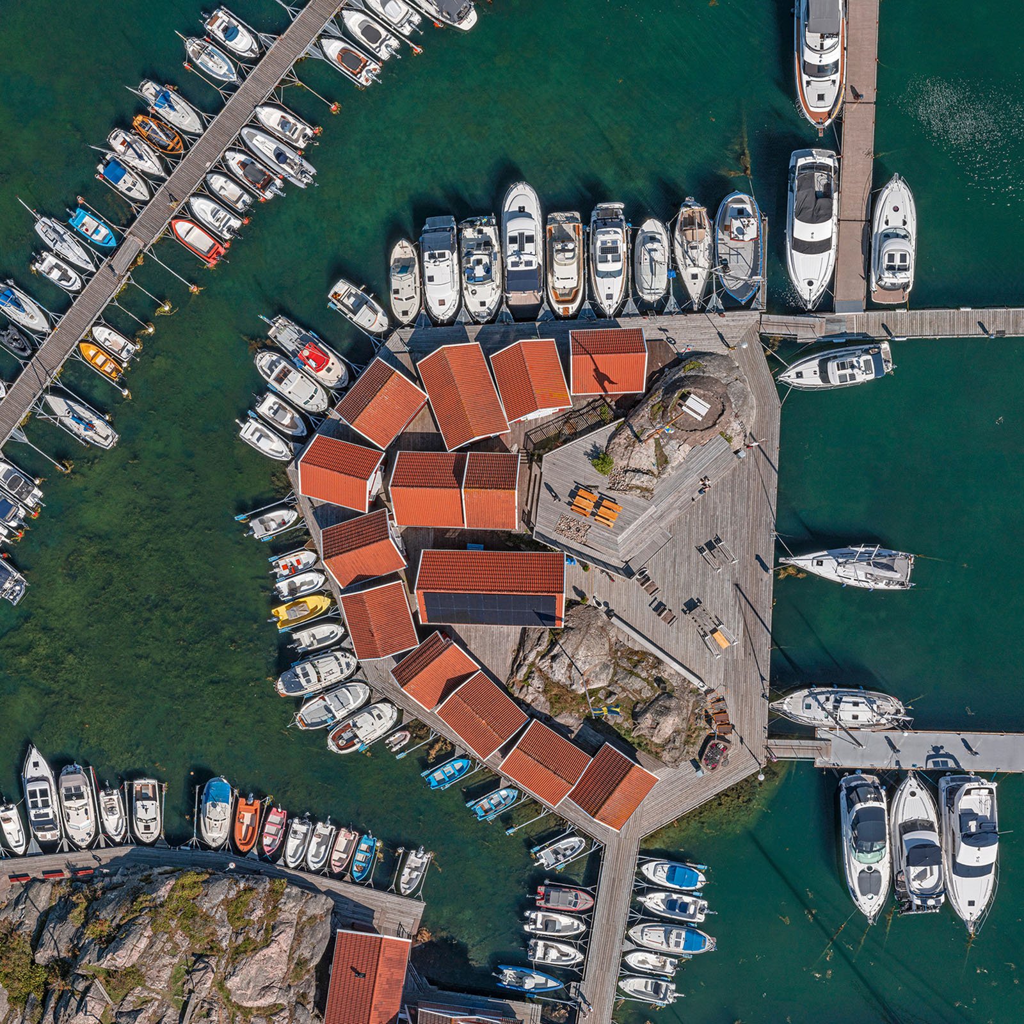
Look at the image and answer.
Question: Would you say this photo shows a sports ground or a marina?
marina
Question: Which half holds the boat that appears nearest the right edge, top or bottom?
bottom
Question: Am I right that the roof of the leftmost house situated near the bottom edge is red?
Yes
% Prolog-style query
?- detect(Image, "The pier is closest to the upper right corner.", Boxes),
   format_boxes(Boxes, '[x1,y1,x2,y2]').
[842,0,879,103]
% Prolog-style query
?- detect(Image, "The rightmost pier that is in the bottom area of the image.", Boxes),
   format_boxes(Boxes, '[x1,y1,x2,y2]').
[814,728,1024,772]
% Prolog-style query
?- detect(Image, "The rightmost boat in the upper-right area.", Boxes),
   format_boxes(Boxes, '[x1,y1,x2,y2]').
[866,170,921,309]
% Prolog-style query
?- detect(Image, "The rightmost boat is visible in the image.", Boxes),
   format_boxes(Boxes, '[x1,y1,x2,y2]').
[935,770,1002,936]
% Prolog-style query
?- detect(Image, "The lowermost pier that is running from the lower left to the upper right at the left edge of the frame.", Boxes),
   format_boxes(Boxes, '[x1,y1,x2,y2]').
[0,259,136,452]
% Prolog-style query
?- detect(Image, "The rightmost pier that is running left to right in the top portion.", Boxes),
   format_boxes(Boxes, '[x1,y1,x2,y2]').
[854,308,1024,339]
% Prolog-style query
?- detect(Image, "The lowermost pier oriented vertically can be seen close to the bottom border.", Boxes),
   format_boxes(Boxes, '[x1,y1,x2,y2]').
[575,838,639,1024]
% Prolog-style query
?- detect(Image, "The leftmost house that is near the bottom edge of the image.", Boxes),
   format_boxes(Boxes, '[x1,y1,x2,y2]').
[321,928,413,1024]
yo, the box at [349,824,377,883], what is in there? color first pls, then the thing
blue boat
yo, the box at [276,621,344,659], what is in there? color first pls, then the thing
white boat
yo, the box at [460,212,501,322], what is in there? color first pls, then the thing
white boat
